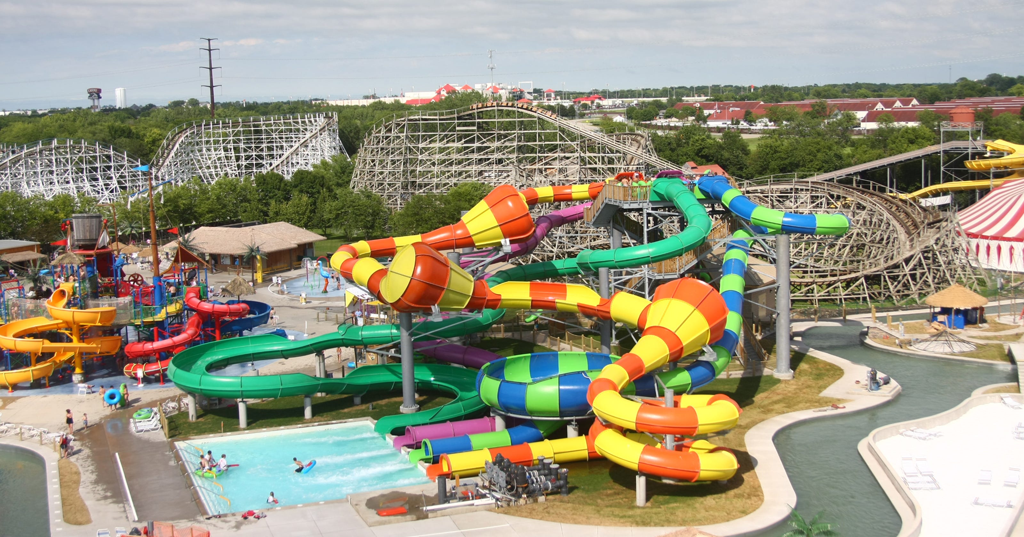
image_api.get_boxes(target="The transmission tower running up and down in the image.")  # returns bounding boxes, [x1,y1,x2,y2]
[197,35,223,122]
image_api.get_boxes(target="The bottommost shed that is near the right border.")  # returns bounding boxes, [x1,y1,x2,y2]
[919,282,993,330]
